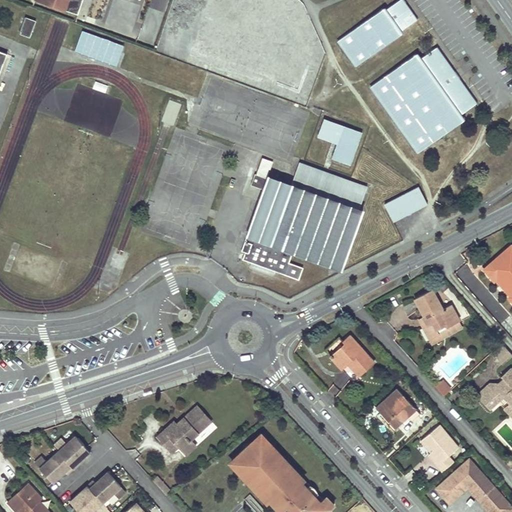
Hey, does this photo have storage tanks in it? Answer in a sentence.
No, this view has no storage tank in it.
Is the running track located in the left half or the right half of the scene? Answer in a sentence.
The running track is on the left side of the image.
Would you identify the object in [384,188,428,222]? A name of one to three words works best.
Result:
shed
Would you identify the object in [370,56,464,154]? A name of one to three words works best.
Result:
building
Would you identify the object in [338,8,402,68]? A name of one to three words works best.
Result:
building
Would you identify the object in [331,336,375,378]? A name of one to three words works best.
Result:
house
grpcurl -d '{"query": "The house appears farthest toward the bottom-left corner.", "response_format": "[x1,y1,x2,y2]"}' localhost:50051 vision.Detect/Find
[8,482,52,512]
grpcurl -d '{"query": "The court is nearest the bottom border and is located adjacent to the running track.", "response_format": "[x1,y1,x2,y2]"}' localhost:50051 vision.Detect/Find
[142,127,228,251]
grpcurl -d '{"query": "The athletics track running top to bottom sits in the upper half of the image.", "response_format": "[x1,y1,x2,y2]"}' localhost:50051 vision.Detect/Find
[0,20,150,312]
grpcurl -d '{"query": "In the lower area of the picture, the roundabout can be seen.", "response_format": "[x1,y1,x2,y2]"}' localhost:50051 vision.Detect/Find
[206,298,284,376]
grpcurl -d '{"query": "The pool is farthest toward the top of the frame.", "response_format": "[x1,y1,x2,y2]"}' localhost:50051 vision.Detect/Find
[434,346,474,383]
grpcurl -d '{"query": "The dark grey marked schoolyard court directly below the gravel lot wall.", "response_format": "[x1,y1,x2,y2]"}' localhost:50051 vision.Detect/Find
[195,80,301,150]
